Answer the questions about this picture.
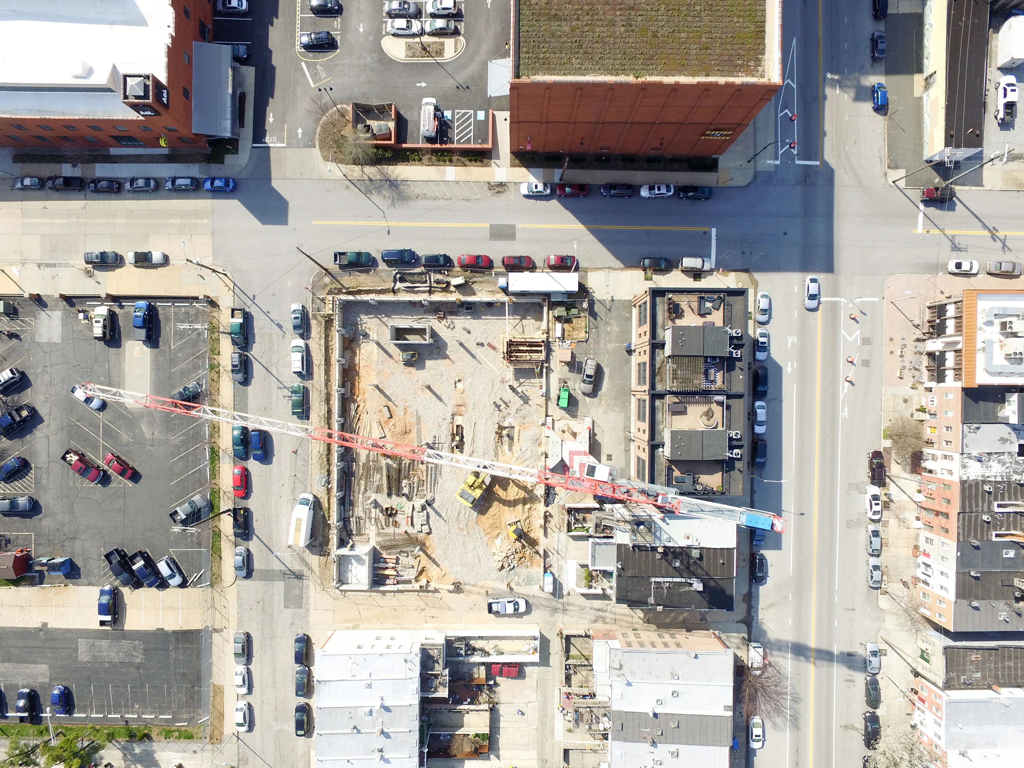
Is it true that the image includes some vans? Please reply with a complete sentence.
Yes, a van can be made out from above.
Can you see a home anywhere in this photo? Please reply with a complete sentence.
Yes, the photo shows a home.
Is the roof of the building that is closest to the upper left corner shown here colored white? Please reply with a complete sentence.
Yes, the roof of the building that is closest to the upper left corner is white.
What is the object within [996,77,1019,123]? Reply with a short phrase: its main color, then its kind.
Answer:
white truck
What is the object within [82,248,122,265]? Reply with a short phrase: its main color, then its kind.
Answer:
gray car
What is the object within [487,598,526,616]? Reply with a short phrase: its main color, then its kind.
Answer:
white vehicle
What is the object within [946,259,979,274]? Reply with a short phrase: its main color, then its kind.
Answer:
white car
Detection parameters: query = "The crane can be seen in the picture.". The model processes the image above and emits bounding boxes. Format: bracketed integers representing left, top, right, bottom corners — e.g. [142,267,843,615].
[67,378,785,540]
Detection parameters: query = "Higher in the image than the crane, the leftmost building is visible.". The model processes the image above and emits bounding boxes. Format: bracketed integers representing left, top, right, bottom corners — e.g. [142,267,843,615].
[0,0,211,148]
